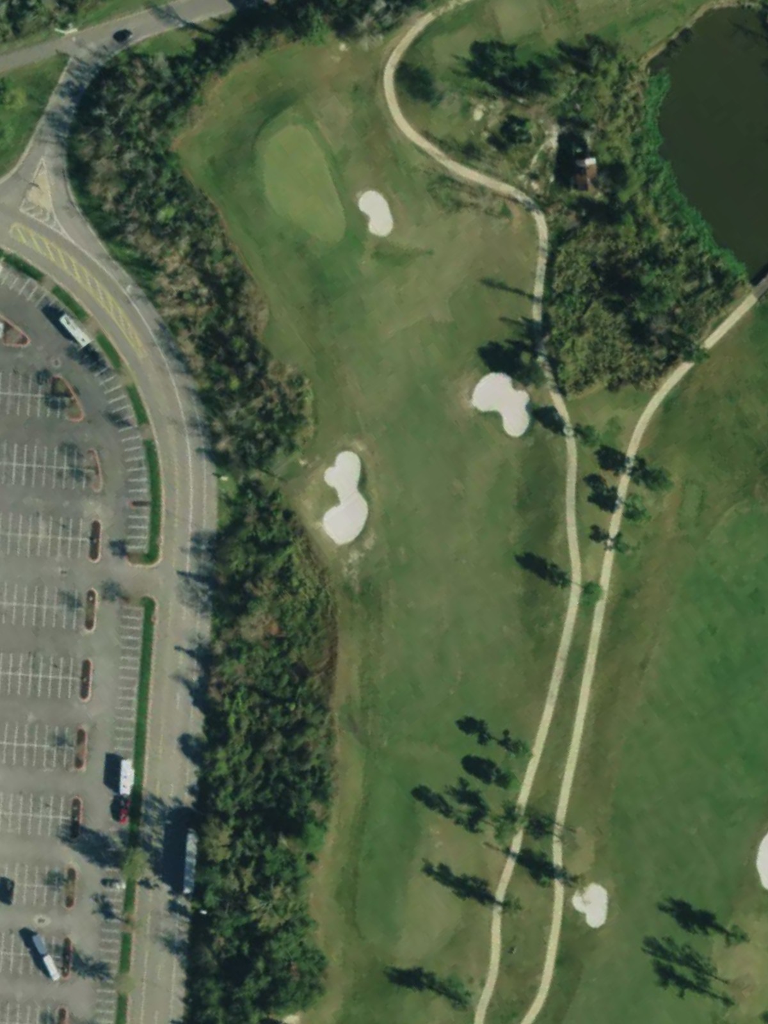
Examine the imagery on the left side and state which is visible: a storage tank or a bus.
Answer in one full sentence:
It is a bus that can be seen on the left side.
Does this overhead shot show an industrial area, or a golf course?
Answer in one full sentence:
It's a golf course.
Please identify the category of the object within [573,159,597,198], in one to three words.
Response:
shed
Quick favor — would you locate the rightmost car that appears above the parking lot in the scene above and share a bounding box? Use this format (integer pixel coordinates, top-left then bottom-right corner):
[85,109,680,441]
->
[113,29,132,42]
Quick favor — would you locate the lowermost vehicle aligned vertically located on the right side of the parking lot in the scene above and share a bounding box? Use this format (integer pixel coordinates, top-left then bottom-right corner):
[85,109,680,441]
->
[183,829,198,892]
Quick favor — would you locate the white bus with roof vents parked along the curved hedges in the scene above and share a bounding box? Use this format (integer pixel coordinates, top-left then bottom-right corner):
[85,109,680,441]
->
[59,314,91,347]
